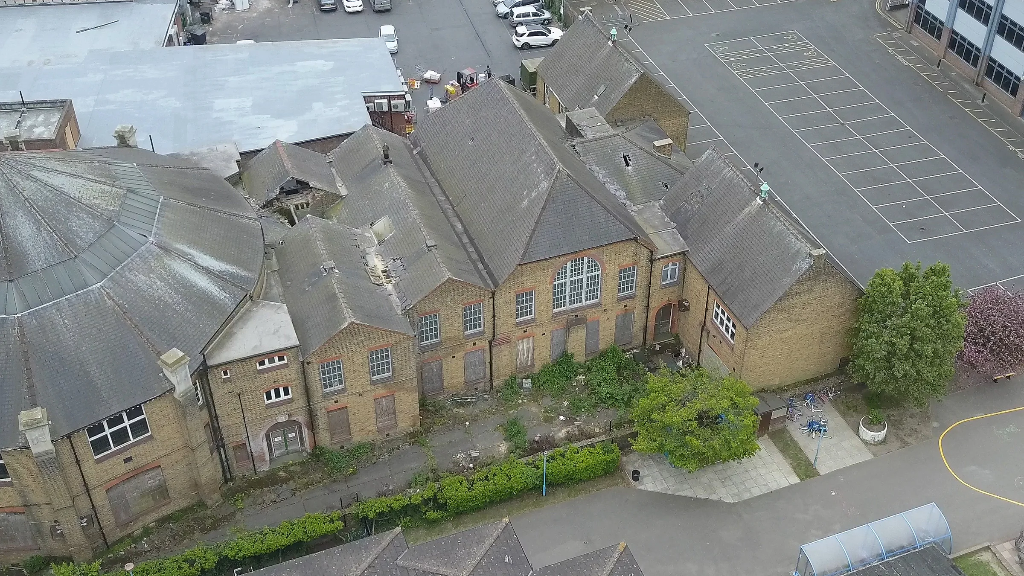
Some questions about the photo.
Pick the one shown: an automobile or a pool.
automobile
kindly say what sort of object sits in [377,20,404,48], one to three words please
car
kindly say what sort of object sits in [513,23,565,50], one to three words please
car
